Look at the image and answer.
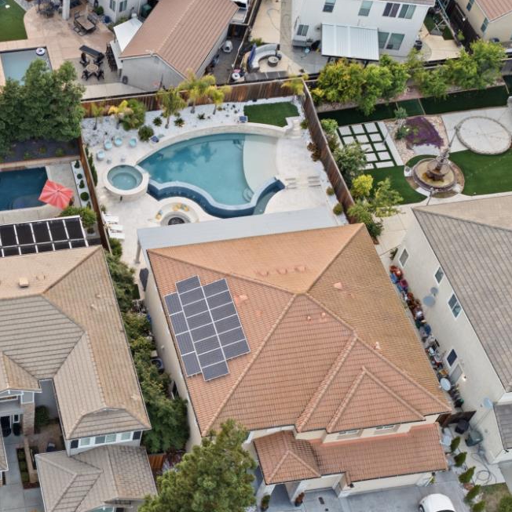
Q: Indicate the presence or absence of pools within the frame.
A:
Yes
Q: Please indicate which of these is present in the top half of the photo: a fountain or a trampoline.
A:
fountain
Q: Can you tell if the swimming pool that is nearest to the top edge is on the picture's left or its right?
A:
left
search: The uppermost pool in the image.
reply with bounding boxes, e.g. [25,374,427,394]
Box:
[1,47,51,82]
